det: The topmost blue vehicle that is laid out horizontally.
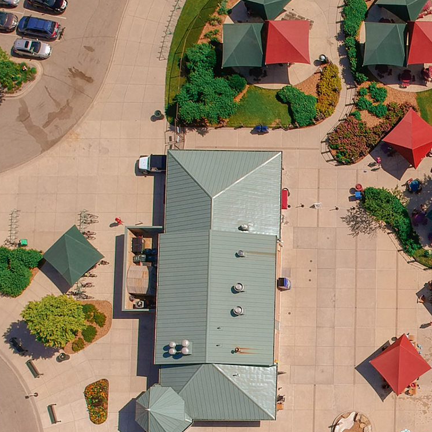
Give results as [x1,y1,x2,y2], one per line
[16,16,62,42]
